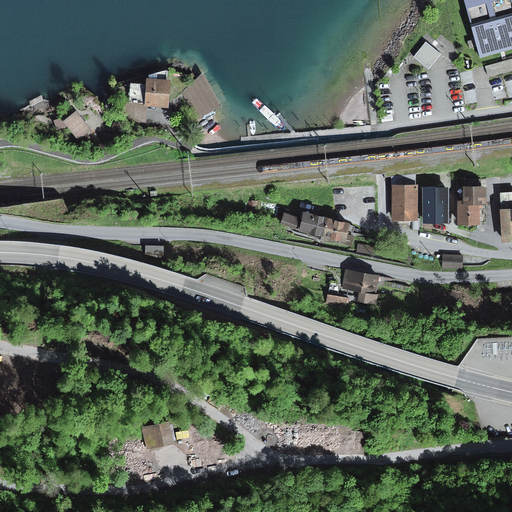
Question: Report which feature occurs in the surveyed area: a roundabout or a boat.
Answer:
boat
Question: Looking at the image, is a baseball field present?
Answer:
No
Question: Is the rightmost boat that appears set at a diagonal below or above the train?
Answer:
above it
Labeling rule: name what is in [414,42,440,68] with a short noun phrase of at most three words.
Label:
building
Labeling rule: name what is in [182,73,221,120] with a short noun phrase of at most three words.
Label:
building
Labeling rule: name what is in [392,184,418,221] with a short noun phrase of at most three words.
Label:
house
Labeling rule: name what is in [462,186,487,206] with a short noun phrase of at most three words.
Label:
house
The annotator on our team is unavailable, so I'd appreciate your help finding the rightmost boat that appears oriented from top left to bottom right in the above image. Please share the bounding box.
[251,97,285,131]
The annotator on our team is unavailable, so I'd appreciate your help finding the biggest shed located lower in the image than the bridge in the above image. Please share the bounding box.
[142,423,176,449]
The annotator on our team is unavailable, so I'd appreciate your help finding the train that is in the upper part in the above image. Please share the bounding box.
[257,138,512,173]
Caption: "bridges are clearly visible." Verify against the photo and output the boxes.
[0,241,458,390]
